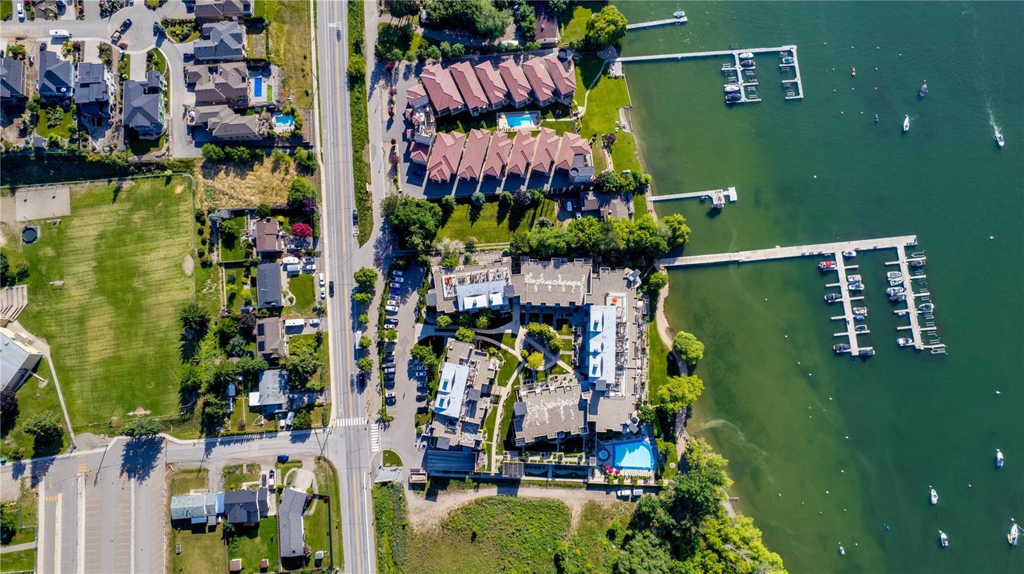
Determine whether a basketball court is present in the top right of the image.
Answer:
No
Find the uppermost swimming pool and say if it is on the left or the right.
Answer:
left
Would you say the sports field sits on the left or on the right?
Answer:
left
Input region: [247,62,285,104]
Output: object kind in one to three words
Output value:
swimming pool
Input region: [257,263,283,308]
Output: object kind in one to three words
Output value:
house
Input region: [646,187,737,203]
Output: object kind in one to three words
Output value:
pier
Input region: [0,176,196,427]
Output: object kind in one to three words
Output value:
sports field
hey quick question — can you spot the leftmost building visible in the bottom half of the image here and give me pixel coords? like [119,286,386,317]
[0,323,44,393]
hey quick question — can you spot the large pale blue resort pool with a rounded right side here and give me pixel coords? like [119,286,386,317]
[592,438,659,477]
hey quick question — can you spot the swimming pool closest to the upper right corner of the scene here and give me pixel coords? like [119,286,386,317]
[497,111,541,132]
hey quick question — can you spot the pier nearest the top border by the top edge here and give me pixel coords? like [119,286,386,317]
[626,16,688,29]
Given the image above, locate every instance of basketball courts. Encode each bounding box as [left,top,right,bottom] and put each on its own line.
[15,187,70,221]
